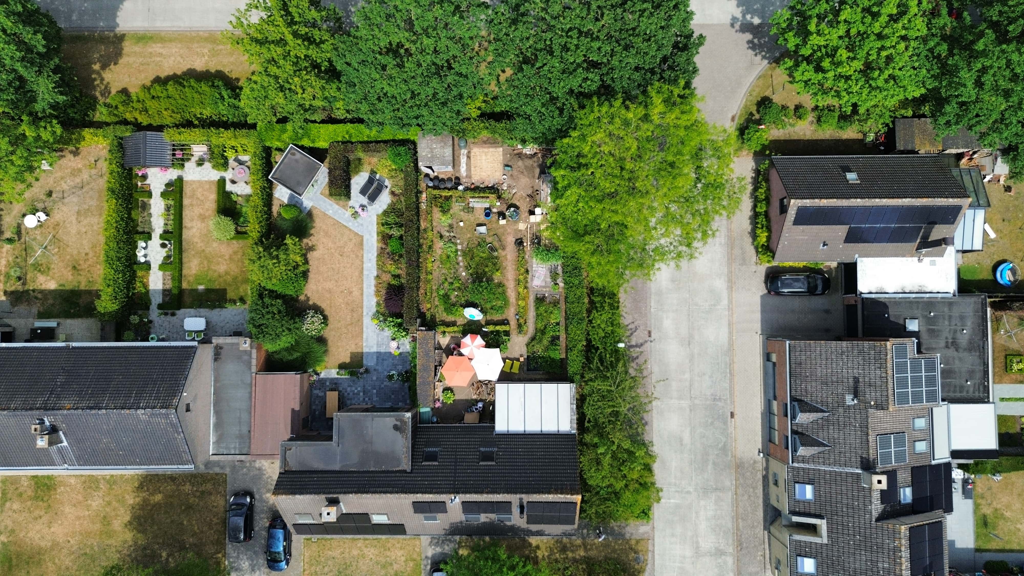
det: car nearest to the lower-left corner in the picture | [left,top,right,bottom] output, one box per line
[225,492,255,543]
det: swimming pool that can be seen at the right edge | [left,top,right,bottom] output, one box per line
[986,258,1023,291]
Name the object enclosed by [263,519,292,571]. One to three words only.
car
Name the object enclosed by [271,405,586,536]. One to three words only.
house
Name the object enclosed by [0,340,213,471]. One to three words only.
house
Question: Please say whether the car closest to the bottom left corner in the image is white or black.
black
